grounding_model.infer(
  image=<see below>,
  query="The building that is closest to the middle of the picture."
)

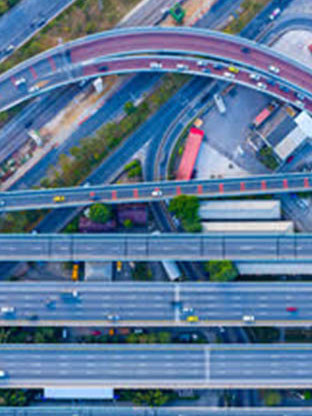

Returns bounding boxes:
[116,206,147,226]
